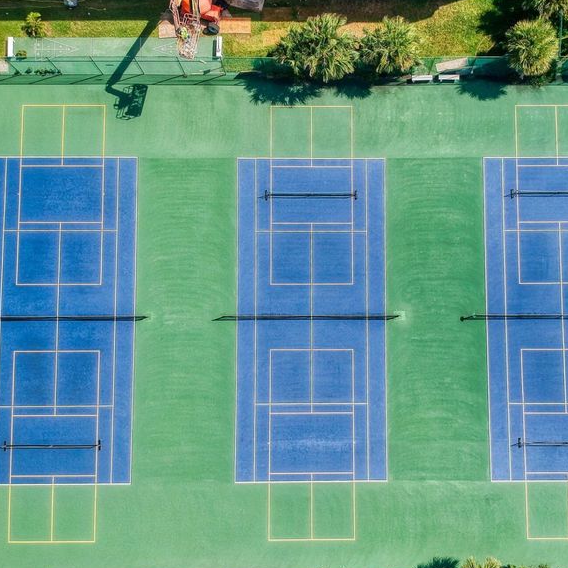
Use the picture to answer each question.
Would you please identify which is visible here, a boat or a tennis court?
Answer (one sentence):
It is a tennis court that can be seen here.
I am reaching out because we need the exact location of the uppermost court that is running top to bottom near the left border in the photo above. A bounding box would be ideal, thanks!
[17,105,106,284]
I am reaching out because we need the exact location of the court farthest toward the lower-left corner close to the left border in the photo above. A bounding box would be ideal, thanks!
[7,351,99,543]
